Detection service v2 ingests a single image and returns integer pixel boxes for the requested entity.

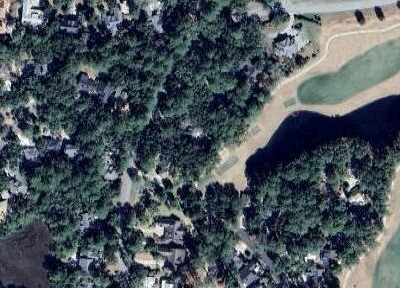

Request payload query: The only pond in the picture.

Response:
[245,94,400,185]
